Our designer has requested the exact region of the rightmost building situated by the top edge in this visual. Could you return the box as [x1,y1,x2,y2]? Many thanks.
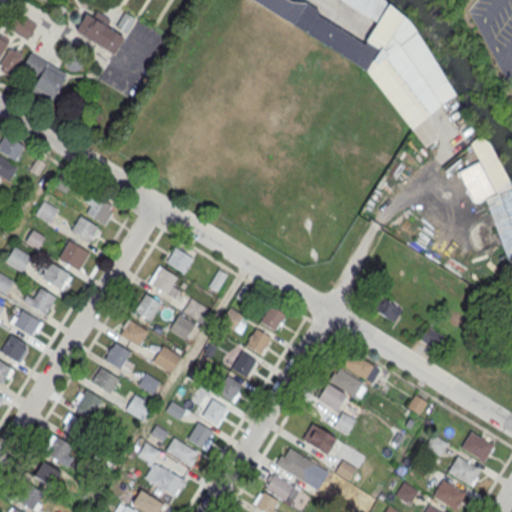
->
[367,2,458,128]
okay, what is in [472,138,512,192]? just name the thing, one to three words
building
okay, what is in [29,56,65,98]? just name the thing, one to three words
house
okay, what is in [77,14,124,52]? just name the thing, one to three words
building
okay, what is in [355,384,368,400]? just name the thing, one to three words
vehicle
